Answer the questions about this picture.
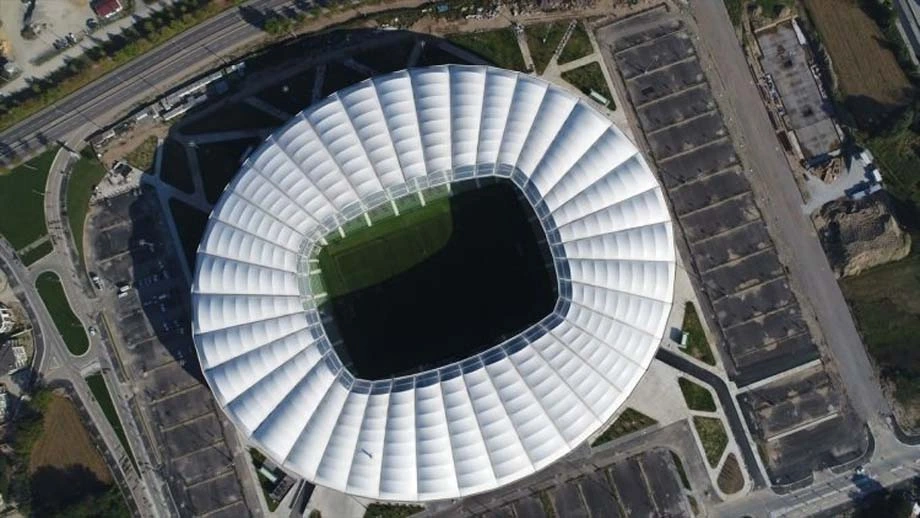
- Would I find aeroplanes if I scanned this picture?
No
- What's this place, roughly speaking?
sports ground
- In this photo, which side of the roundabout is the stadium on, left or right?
on its right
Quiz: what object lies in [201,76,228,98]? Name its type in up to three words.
shed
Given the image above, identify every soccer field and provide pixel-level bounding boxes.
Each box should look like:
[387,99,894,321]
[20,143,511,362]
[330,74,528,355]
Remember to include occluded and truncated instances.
[328,190,548,367]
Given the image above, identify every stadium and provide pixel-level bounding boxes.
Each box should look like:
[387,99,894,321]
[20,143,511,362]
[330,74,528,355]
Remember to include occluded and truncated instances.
[191,64,675,502]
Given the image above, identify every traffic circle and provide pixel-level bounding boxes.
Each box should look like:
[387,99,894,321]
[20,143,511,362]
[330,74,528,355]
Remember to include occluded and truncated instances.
[28,264,99,362]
